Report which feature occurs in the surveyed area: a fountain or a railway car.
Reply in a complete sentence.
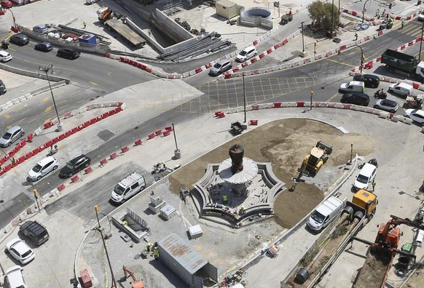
Of the two, only a fountain appears.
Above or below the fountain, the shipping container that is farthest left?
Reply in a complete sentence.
Relative to the fountain, the shipping container that is farthest left lies below it.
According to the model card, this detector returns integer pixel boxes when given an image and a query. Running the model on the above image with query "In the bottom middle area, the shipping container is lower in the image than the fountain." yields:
[155,229,220,288]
